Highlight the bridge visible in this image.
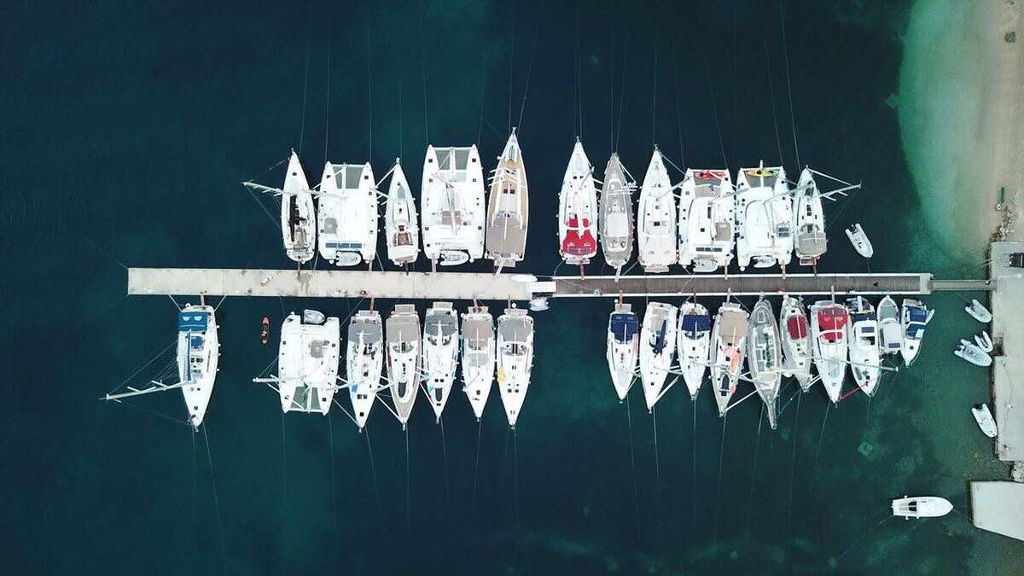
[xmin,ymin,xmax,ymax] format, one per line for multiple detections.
[927,279,996,292]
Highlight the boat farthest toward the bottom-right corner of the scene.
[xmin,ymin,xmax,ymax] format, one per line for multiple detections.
[887,496,958,519]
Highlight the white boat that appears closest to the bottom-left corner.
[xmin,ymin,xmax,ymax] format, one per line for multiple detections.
[99,303,223,430]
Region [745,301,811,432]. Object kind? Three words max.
vessel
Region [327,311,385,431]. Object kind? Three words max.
boat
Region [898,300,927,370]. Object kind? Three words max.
boat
